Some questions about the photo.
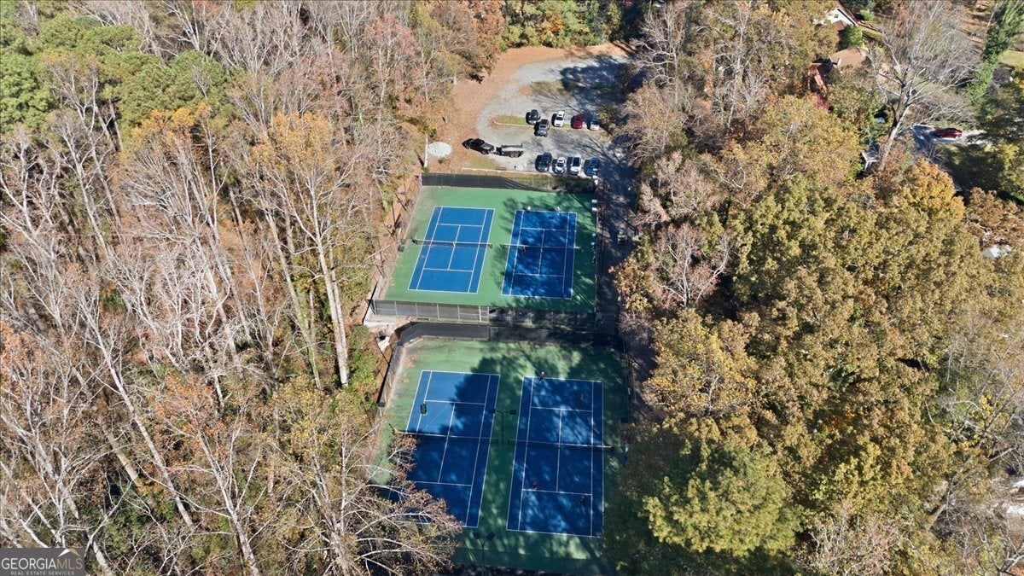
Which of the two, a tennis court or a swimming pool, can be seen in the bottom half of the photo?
tennis court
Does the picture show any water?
No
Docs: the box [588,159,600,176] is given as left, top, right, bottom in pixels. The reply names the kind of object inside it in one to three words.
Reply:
vehicle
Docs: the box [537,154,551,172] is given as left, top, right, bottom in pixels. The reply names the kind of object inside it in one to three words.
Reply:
car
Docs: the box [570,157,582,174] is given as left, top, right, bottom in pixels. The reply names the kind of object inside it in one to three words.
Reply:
vehicle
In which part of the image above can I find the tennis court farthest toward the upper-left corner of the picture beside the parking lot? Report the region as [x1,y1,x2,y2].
[379,186,509,320]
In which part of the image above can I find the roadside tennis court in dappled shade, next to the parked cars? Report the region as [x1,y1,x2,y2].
[484,189,596,325]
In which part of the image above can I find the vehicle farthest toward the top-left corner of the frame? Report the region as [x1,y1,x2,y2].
[463,140,492,155]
